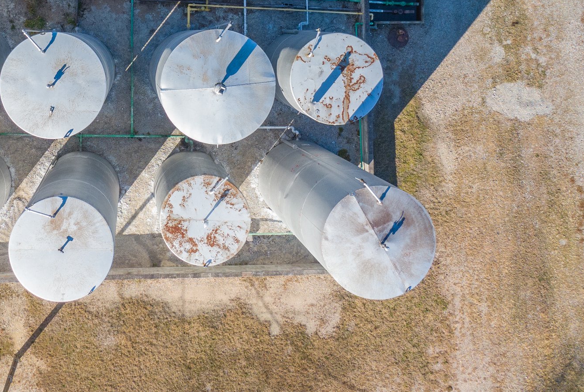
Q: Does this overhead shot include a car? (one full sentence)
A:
No, there isn't any car down there.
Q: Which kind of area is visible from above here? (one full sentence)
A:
This looks like an industrial area.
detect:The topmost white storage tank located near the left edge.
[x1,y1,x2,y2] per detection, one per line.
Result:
[0,29,113,140]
